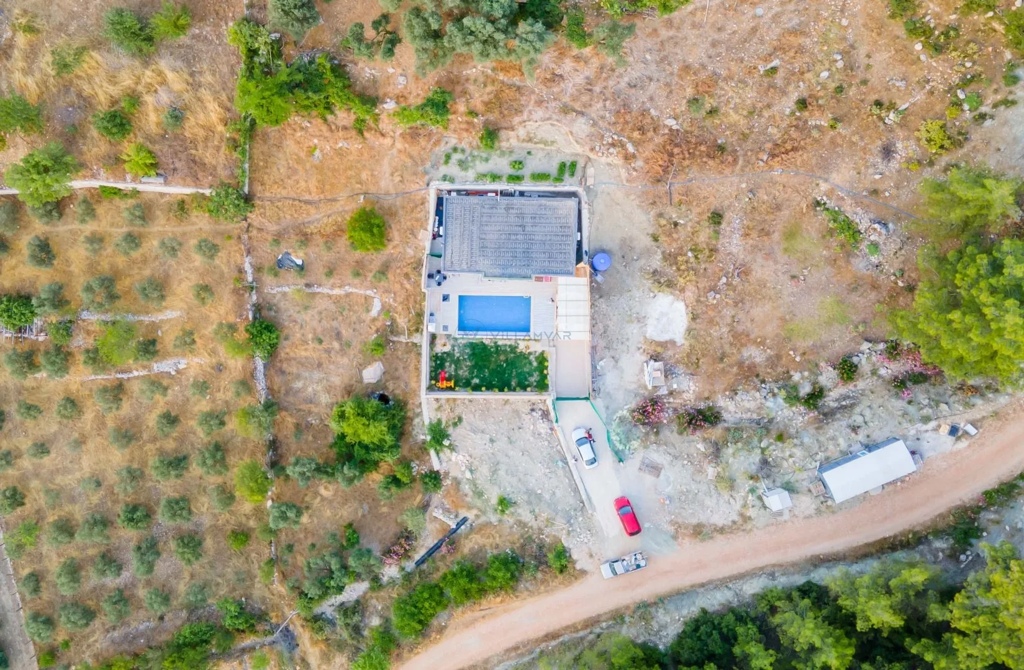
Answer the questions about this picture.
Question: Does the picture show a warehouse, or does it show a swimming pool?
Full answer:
There is a swimming pool in the scene.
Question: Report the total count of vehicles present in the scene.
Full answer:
The count of vehicles comes to 3.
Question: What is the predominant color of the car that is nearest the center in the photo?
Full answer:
From above, the car that is nearest the center appears white.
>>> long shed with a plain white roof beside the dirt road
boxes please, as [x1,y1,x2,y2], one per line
[814,438,915,504]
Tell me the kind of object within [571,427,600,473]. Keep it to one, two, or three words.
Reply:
car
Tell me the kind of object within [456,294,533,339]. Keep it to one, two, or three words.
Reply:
swimming pool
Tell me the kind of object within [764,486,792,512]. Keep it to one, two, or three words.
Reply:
shed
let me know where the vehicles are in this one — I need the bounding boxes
[600,554,650,581]
[571,427,600,473]
[616,497,642,540]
